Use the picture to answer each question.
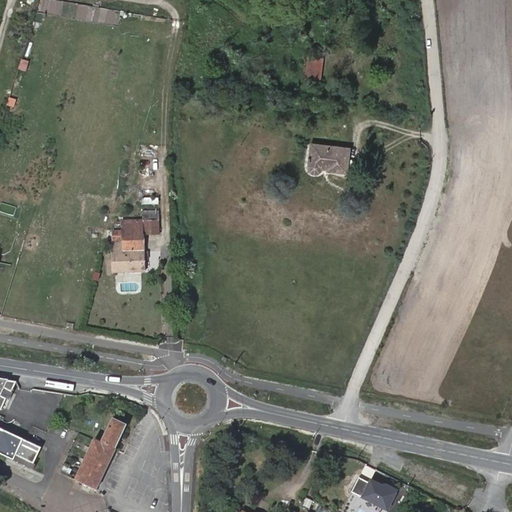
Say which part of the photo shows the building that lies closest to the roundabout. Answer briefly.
bottom left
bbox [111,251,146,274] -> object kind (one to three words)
house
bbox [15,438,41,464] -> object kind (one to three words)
building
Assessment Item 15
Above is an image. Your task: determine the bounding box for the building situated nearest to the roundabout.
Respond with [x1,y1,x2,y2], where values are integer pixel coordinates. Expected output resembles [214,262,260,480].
[100,418,126,449]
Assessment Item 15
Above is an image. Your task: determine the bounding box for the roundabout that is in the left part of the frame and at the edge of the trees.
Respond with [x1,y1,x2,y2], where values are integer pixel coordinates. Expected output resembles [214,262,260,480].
[120,362,270,452]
